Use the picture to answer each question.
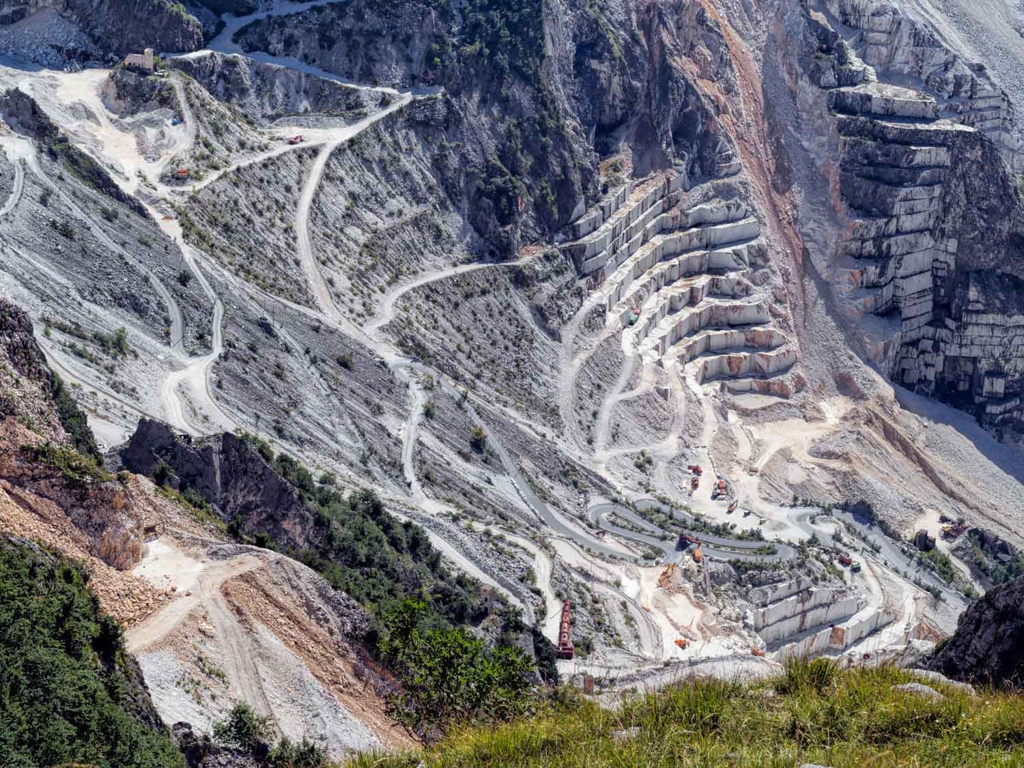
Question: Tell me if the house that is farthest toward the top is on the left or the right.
left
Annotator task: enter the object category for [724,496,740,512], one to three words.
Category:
work vehicle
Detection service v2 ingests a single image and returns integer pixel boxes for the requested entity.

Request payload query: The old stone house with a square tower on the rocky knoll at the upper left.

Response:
[126,48,161,74]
